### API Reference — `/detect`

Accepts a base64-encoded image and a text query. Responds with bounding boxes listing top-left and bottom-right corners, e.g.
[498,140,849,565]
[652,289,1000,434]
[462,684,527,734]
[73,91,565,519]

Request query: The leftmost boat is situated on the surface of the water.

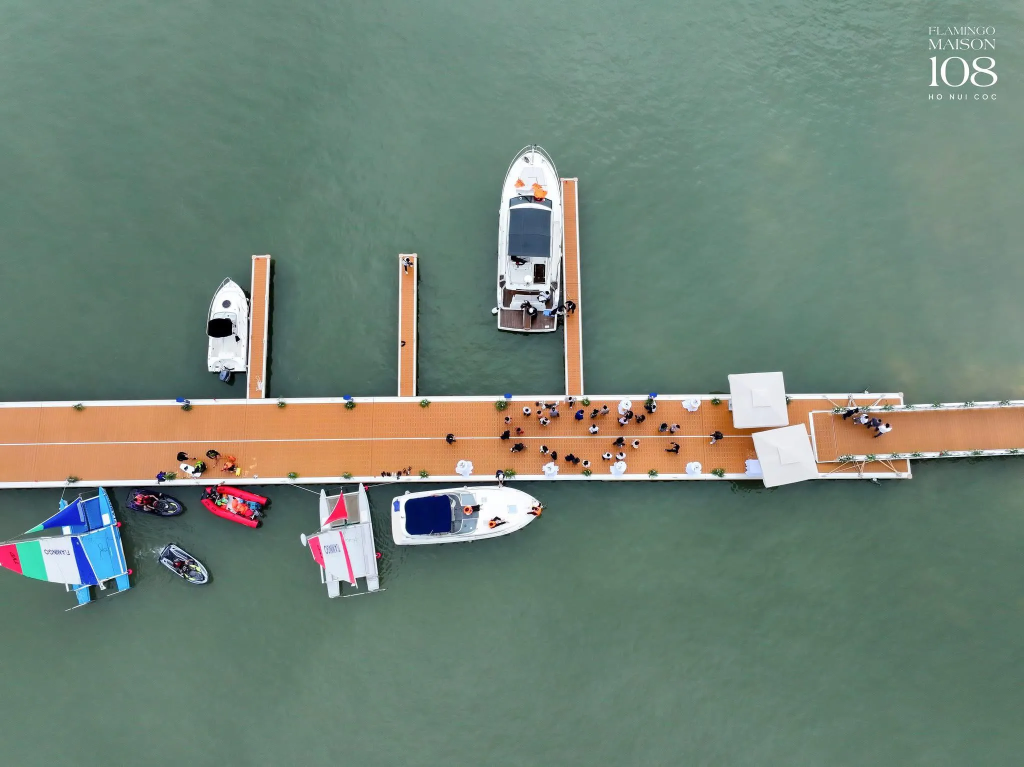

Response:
[0,486,133,611]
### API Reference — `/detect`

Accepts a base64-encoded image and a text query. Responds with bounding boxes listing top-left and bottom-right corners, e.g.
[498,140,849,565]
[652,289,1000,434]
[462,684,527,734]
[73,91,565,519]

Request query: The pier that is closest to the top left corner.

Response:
[247,254,276,398]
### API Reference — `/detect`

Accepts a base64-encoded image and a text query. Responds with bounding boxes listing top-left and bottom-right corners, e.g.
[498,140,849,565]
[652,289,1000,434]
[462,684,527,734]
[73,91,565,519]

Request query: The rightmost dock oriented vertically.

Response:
[559,176,586,395]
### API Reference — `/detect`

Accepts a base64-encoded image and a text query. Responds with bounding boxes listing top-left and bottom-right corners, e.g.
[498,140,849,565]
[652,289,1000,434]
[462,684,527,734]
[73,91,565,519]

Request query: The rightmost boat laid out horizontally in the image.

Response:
[391,487,547,545]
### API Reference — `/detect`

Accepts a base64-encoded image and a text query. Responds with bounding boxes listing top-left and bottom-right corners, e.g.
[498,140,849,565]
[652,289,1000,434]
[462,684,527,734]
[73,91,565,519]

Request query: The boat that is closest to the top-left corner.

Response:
[207,277,250,382]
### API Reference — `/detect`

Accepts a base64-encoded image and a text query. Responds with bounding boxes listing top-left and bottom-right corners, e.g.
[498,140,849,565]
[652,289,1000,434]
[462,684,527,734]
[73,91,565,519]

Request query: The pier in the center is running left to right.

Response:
[0,391,906,488]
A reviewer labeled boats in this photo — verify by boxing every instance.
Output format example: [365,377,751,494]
[391,487,547,545]
[125,489,182,515]
[160,545,210,582]
[200,485,275,531]
[497,145,563,333]
[0,486,133,611]
[303,482,387,600]
[207,277,250,382]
